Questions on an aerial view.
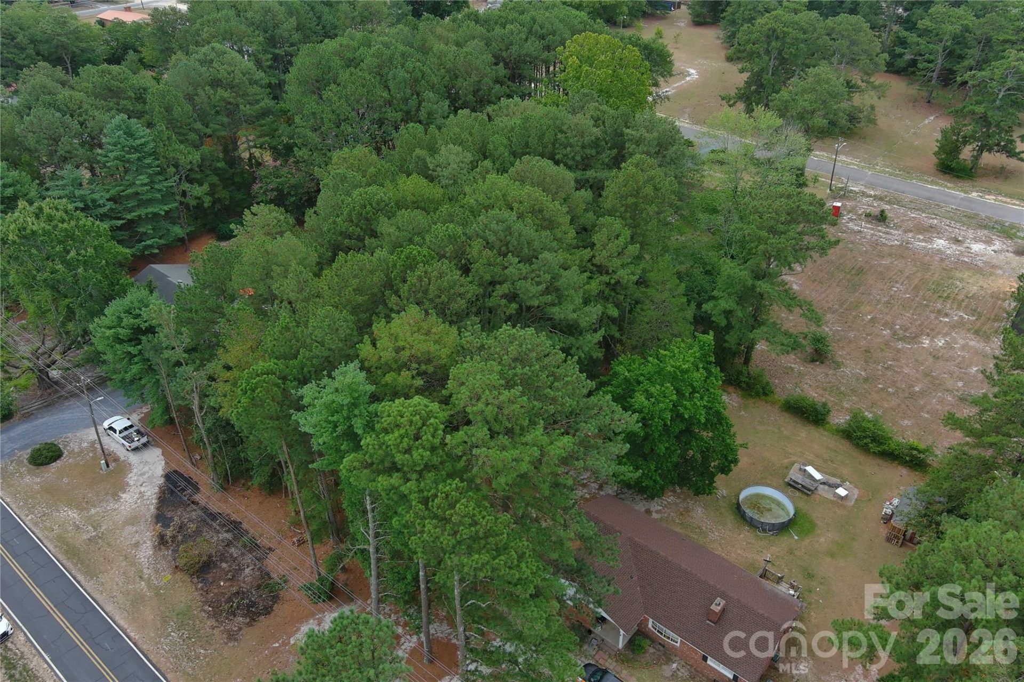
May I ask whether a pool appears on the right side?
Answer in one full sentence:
Yes, a pool can be seen on the right side.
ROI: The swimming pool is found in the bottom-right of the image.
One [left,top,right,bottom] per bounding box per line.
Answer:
[734,485,795,533]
